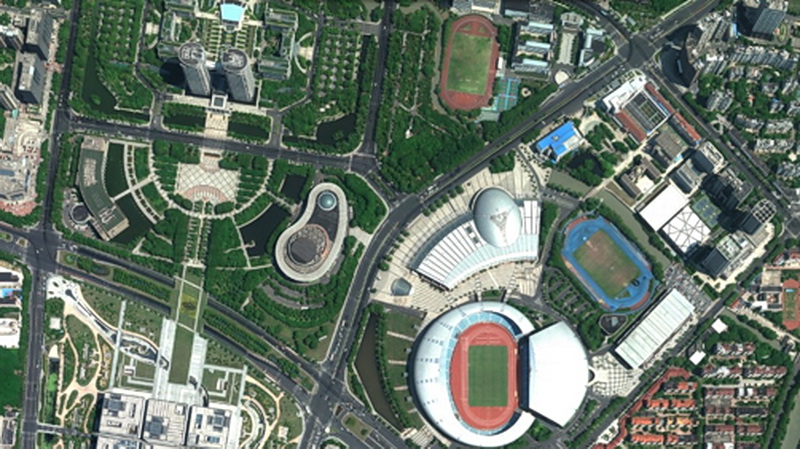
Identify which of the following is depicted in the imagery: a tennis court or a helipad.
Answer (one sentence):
Looking from above, you can make out a tennis court.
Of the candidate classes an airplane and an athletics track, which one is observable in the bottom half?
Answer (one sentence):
What appears in the bottom half is an athletics track.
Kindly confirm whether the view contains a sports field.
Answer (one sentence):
Yes, a sports field can be made out from above.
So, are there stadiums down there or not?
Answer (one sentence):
Yes, this view includes a stadium.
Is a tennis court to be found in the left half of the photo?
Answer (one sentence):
No, looking in the left half of the photo, there is no tennis court.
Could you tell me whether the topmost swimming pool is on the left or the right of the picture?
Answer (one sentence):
The topmost swimming pool sits on the left side.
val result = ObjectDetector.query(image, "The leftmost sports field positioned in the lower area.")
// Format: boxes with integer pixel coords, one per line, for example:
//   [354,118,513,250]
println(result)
[468,346,507,406]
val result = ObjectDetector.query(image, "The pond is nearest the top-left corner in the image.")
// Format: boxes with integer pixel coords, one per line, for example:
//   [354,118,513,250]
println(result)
[82,0,149,121]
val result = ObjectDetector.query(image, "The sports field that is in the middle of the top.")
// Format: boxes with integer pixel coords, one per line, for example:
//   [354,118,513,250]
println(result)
[446,31,491,95]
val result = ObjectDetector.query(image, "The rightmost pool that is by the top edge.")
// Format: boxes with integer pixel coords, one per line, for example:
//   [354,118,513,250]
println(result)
[219,0,252,26]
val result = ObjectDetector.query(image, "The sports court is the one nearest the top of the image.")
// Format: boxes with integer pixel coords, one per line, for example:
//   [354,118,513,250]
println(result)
[492,78,520,110]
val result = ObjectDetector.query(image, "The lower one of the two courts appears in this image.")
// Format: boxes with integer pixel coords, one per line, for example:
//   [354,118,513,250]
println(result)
[692,195,720,228]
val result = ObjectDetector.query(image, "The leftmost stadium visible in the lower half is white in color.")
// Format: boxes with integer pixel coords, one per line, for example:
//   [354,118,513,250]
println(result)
[413,298,534,447]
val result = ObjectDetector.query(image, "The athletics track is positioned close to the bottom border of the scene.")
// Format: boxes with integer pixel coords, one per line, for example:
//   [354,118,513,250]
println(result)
[450,321,519,429]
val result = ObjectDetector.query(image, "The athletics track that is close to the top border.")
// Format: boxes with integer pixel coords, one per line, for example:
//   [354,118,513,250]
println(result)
[441,14,496,110]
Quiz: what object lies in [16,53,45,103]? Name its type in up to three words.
building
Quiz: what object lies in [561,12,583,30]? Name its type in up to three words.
building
